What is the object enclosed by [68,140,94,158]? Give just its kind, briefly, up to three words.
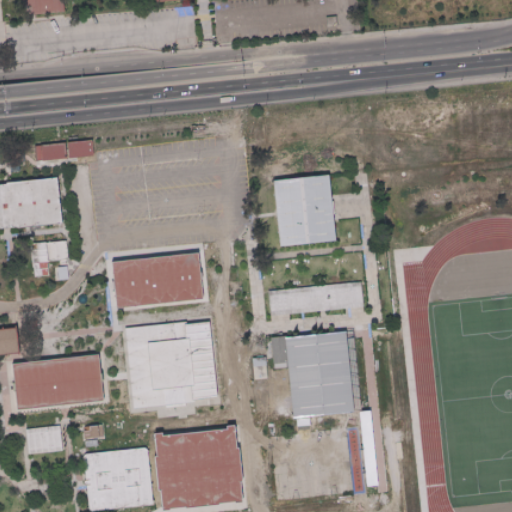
shed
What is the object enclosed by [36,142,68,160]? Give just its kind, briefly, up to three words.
shed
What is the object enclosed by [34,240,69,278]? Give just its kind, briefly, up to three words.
building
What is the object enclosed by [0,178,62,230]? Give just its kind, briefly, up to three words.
building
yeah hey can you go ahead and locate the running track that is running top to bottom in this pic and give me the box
[404,221,512,512]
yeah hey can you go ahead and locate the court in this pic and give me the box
[274,432,350,500]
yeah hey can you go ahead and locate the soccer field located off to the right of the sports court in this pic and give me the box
[428,294,512,507]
